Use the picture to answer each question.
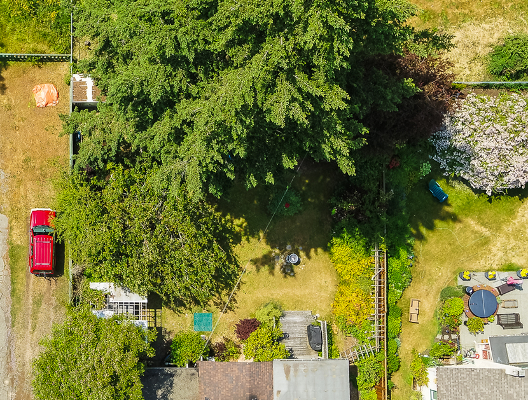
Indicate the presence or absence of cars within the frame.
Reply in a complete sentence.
Yes, the picture does show a car.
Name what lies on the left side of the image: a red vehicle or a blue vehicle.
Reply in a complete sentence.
Looking on the left side of the image, you will find a red vehicle.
